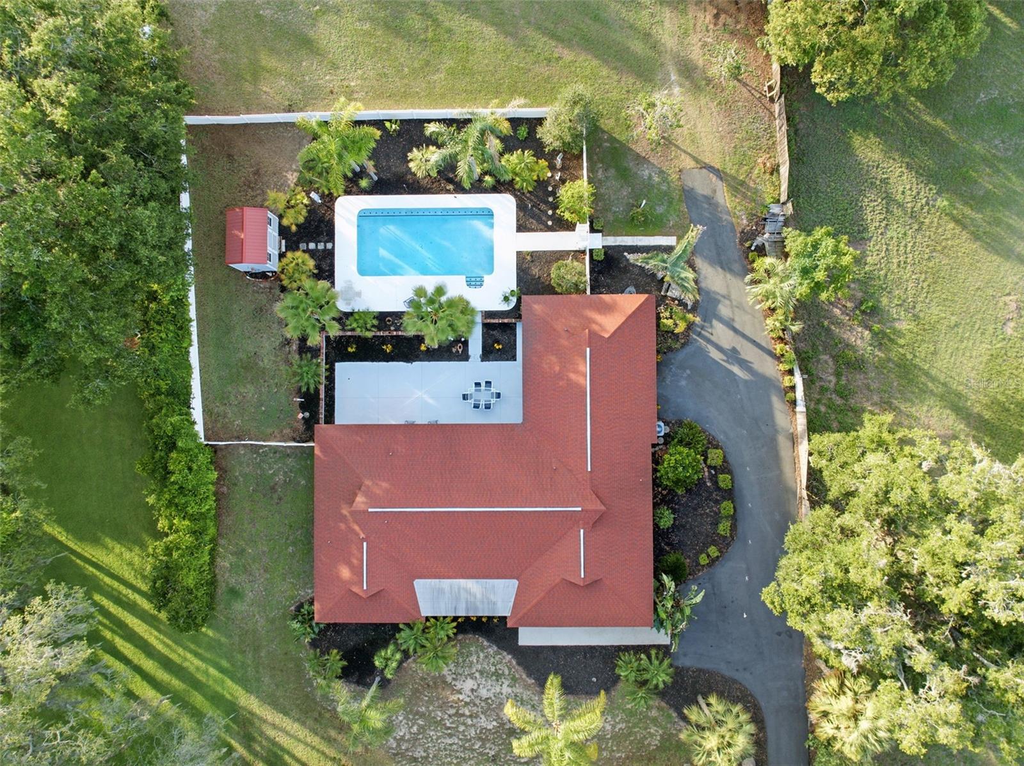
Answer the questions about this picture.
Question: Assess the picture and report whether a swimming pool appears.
Yes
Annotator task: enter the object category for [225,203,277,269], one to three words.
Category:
shed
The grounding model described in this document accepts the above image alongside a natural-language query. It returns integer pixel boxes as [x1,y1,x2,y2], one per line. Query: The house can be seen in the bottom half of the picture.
[313,293,654,628]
